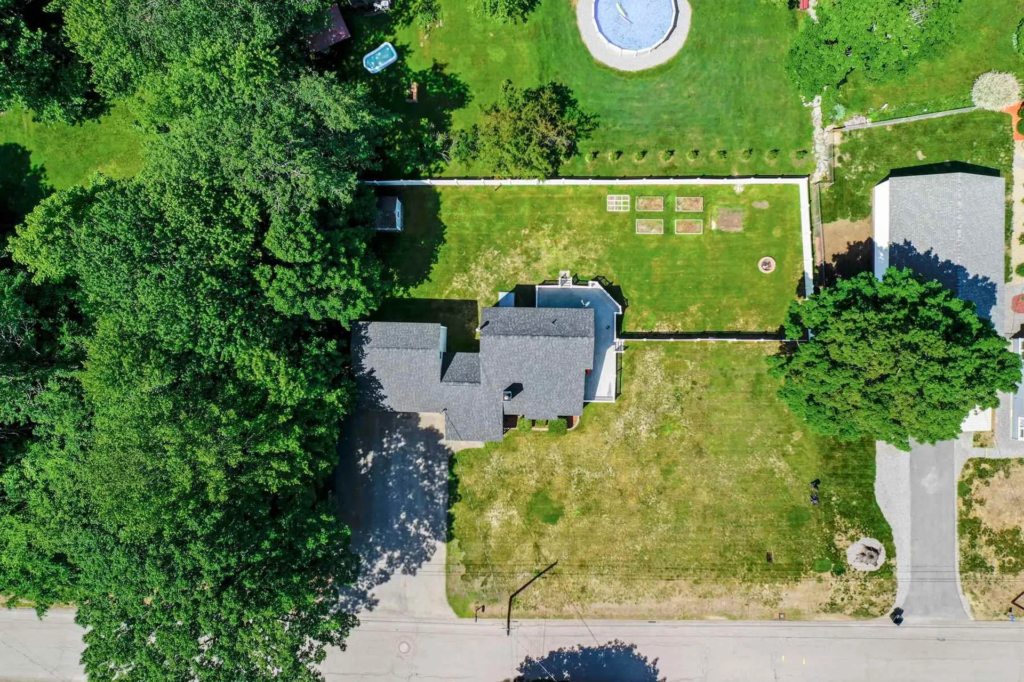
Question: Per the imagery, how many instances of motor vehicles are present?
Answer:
0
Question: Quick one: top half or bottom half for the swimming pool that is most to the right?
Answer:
top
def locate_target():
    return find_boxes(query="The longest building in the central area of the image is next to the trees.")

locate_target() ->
[352,297,595,441]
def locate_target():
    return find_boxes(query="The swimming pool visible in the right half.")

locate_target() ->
[592,0,677,57]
